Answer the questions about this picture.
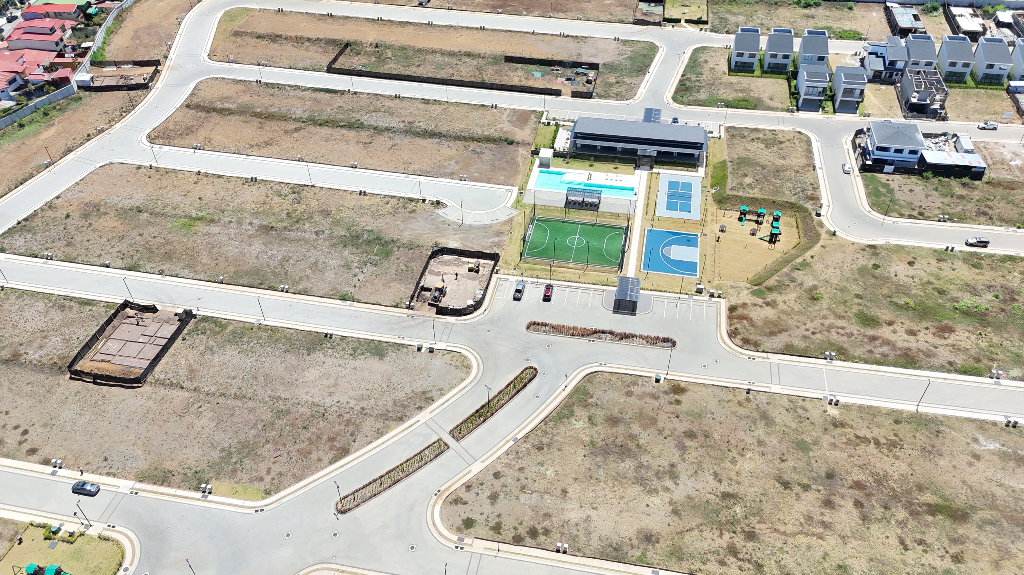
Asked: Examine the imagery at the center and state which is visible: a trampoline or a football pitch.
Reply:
football pitch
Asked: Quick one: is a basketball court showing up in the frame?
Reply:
Yes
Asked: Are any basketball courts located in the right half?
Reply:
Yes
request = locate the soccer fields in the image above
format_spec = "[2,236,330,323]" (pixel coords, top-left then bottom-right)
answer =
[519,215,630,270]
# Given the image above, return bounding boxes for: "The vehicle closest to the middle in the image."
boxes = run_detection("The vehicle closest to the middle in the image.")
[512,282,524,300]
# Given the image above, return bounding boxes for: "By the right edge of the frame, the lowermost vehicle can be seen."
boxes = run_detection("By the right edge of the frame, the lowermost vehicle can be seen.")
[966,237,992,249]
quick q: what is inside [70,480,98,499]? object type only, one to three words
car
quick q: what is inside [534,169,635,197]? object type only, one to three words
swimming pool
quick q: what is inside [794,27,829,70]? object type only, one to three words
house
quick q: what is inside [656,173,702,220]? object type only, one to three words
sports court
